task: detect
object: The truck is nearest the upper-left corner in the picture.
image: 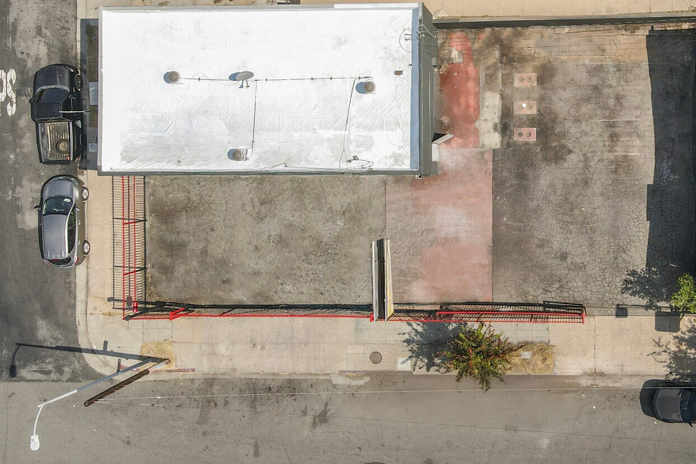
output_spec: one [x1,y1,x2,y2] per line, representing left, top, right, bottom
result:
[26,65,85,163]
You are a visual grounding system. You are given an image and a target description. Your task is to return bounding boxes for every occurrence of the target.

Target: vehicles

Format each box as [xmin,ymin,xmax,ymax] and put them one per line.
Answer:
[26,65,85,163]
[652,381,696,428]
[32,176,91,268]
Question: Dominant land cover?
paved ground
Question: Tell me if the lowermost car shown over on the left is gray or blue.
gray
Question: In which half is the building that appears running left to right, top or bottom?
top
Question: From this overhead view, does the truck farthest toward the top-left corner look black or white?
black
